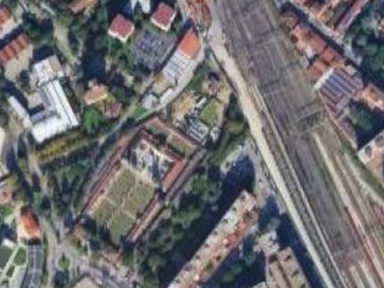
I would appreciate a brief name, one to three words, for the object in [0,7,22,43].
house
